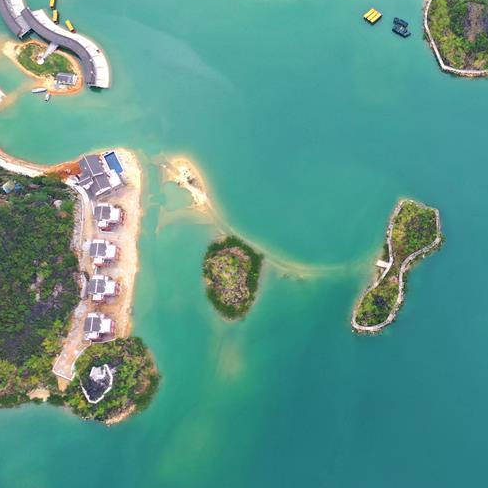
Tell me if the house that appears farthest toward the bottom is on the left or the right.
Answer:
left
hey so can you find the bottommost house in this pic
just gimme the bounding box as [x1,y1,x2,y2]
[84,313,119,340]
